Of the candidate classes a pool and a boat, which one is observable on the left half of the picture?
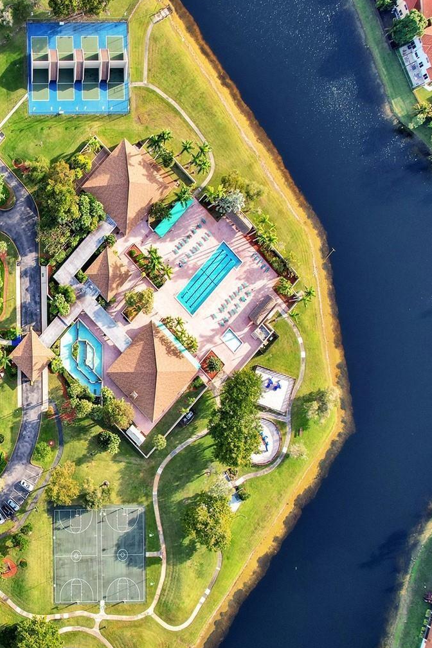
pool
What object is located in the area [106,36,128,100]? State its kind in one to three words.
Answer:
sports court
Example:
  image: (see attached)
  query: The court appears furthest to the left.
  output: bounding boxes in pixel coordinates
[31,36,51,100]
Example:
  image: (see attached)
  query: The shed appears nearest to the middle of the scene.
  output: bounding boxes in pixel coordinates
[245,294,277,327]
